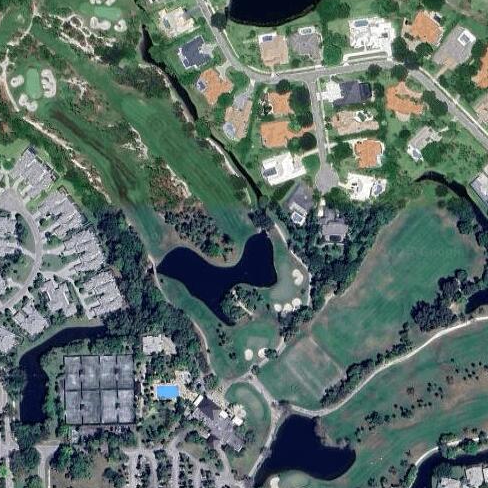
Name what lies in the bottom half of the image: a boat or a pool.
pool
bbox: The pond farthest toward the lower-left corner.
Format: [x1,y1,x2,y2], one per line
[20,326,108,425]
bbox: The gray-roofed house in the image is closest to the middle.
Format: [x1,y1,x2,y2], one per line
[287,183,317,228]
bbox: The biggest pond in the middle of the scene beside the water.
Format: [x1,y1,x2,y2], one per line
[158,233,276,324]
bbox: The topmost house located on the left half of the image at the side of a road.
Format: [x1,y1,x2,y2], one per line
[158,4,206,37]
